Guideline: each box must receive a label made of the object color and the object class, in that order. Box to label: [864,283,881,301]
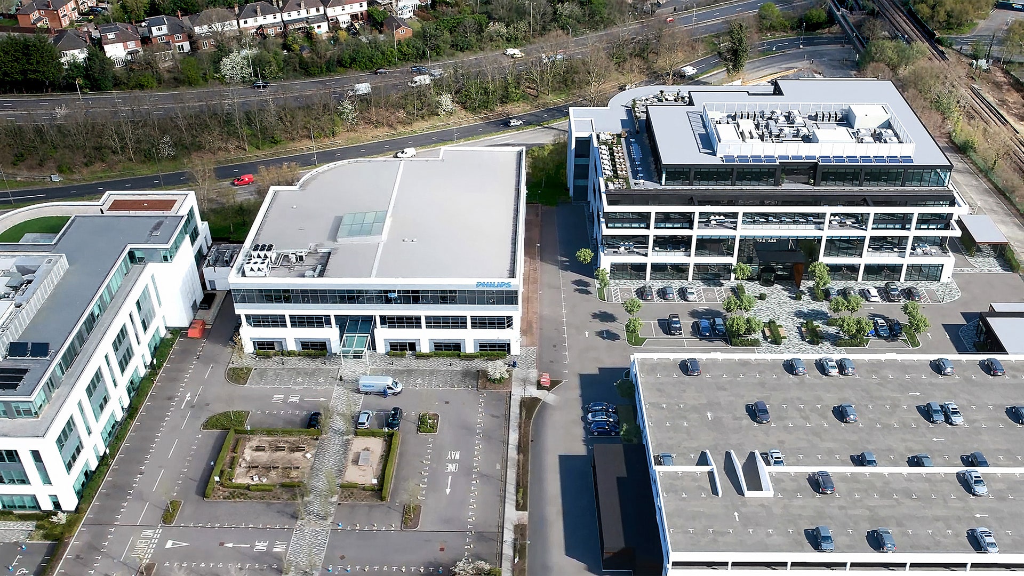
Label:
white car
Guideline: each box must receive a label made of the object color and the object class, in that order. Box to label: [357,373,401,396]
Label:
white vehicle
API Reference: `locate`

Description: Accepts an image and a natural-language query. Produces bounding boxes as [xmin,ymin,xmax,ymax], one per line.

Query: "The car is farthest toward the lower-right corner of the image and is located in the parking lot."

[974,524,1000,554]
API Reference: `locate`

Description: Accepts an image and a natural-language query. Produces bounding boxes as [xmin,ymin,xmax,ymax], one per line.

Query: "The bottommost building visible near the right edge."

[973,311,1024,355]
